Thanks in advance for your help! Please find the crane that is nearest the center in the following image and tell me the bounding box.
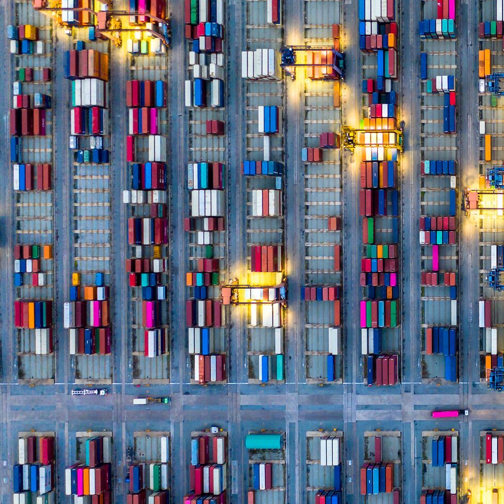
[223,277,291,309]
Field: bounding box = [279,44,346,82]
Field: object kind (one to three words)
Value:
crane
